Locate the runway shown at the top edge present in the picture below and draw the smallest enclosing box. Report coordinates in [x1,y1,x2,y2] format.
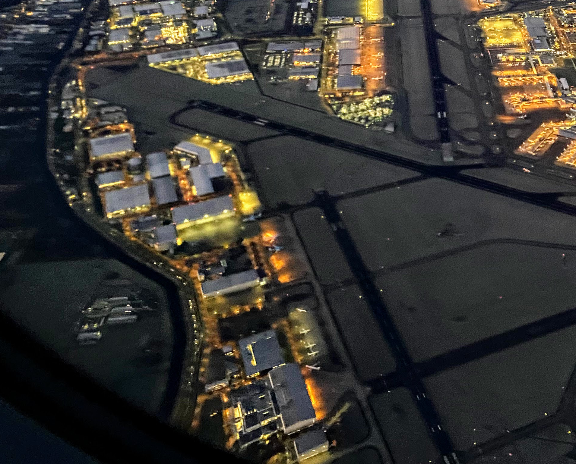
[420,0,454,148]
